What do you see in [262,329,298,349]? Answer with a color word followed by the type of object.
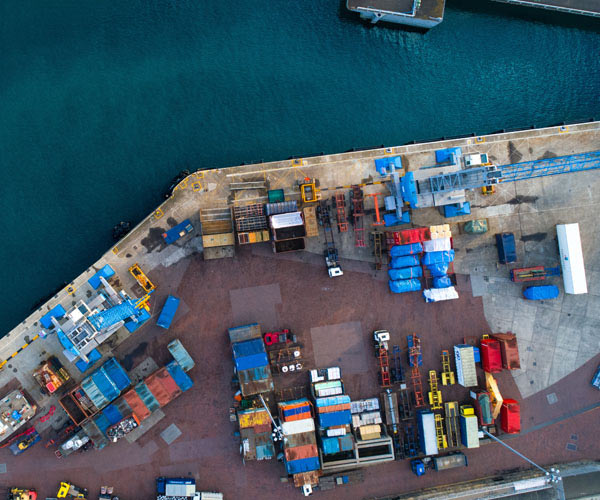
red vehicle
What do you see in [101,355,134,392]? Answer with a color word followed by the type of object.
blue shipping container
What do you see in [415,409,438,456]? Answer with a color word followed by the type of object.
white trailer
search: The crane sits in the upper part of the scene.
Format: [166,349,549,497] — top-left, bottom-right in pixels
[375,147,600,228]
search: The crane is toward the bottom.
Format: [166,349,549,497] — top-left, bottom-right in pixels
[40,265,164,373]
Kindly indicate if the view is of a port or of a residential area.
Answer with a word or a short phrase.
port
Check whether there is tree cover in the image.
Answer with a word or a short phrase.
No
